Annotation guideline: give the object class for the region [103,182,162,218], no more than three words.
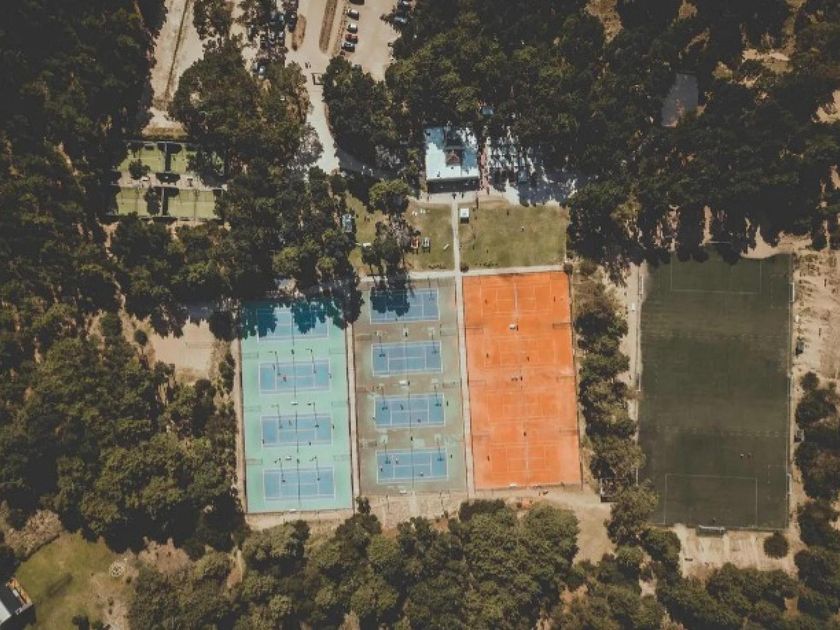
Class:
sports court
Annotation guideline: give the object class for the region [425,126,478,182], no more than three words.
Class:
building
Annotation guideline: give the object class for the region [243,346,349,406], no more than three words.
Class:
tennis court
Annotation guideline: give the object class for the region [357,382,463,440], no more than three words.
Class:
tennis court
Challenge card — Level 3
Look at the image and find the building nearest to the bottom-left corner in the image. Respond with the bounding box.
[0,578,34,627]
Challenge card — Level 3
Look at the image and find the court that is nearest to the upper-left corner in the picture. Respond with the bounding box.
[107,138,167,172]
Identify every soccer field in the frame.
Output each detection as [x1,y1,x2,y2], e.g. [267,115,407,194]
[638,246,791,529]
